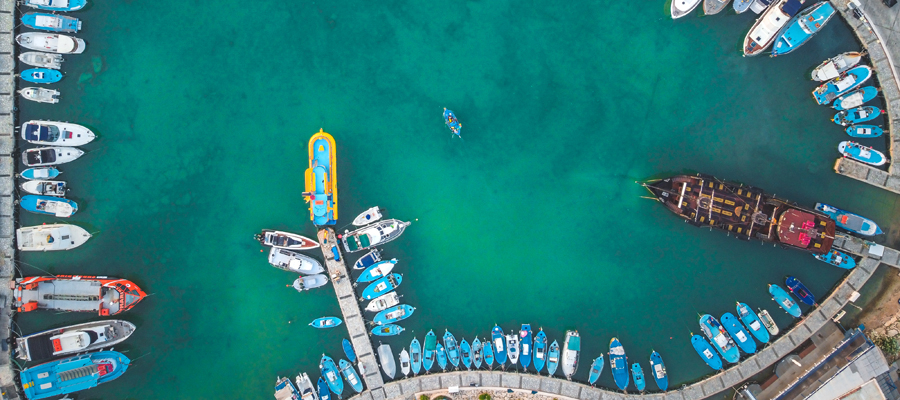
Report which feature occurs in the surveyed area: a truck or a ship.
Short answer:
ship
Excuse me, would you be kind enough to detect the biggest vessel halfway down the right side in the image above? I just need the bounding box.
[635,175,850,255]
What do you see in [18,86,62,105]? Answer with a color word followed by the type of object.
white boat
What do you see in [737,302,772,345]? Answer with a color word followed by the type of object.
blue boat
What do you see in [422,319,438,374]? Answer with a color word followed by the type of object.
blue boat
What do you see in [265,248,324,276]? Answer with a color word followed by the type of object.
white boat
